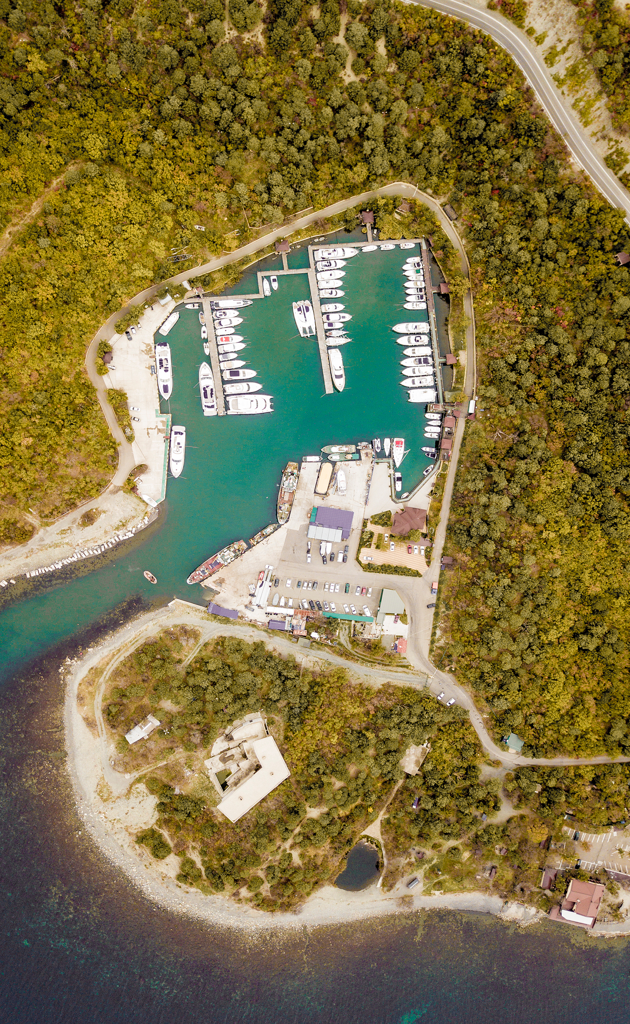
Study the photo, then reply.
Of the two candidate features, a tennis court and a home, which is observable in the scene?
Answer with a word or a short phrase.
home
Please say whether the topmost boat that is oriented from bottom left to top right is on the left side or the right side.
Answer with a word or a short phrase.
left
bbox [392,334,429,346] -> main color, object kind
white boat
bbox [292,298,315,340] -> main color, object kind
white boat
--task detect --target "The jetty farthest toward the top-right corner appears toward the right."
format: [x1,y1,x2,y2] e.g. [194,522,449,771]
[421,249,435,313]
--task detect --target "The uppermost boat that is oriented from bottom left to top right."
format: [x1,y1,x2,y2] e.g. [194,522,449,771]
[157,312,183,336]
